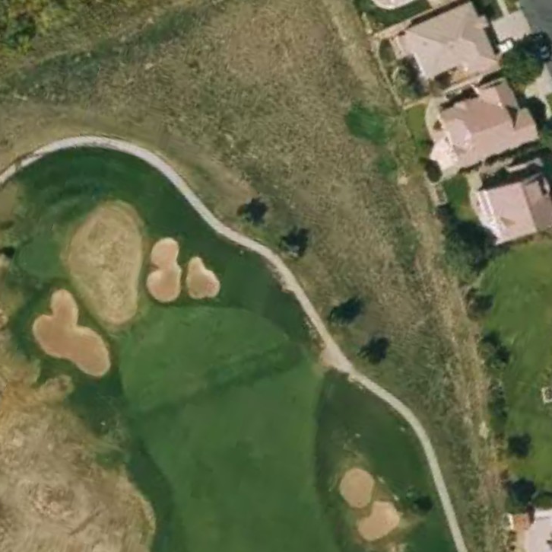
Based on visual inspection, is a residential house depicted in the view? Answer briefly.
Yes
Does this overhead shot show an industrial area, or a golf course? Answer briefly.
golf course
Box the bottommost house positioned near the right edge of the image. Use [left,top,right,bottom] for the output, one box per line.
[475,175,552,243]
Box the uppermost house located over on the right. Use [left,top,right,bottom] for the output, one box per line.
[395,0,501,84]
